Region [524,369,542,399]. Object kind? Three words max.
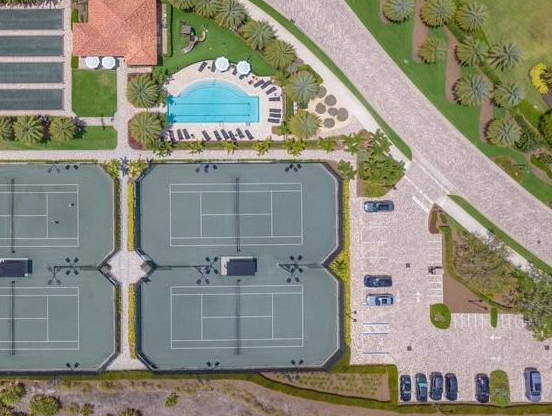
car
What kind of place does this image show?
sports ground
